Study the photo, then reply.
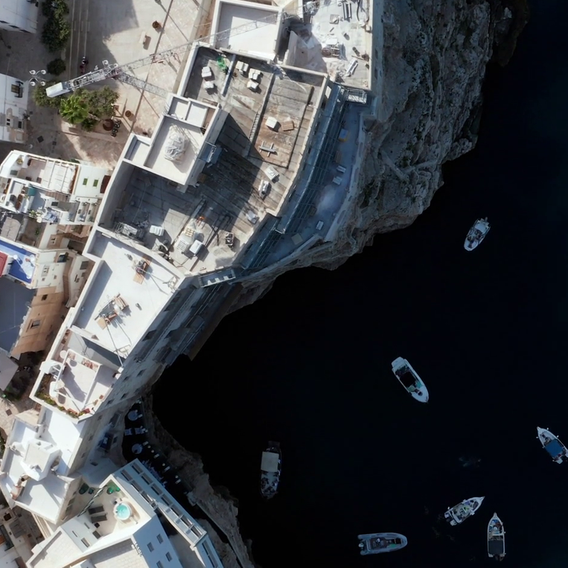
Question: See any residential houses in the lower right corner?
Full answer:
No, there is no residential house in the lower right corner.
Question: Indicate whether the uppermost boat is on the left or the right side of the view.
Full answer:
The uppermost boat sits on the right side.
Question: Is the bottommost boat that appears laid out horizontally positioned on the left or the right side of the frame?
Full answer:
You can find the bottommost boat that appears laid out horizontally on the right side of the picture.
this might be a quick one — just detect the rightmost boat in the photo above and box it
[537,427,568,466]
